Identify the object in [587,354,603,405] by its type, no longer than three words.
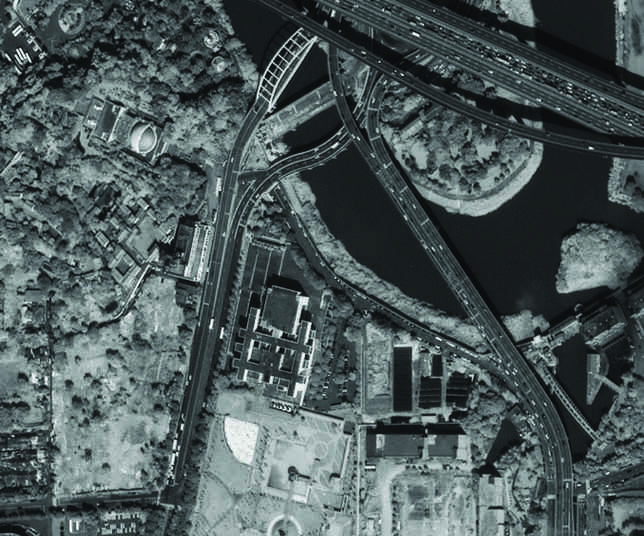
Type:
pier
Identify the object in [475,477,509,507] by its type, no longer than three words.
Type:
building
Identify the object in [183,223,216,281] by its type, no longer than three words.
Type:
building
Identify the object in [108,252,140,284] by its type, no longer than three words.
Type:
house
